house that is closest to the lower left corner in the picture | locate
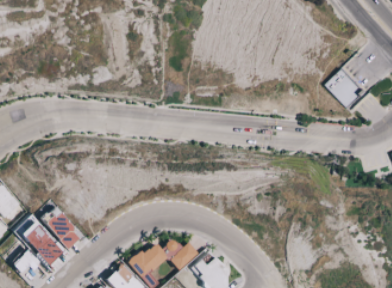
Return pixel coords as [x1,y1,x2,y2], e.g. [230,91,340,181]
[6,246,40,280]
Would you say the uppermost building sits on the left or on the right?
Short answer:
right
